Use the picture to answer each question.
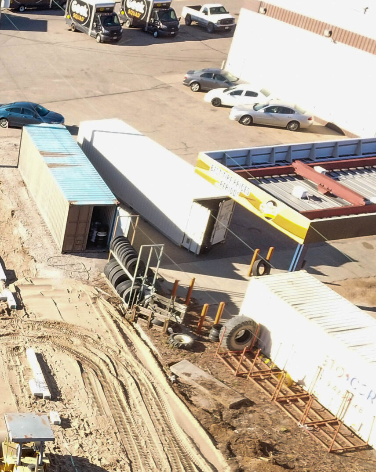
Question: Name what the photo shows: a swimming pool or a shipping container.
shipping container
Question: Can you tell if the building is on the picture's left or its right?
right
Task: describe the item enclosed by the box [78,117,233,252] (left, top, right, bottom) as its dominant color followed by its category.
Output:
white shipping container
